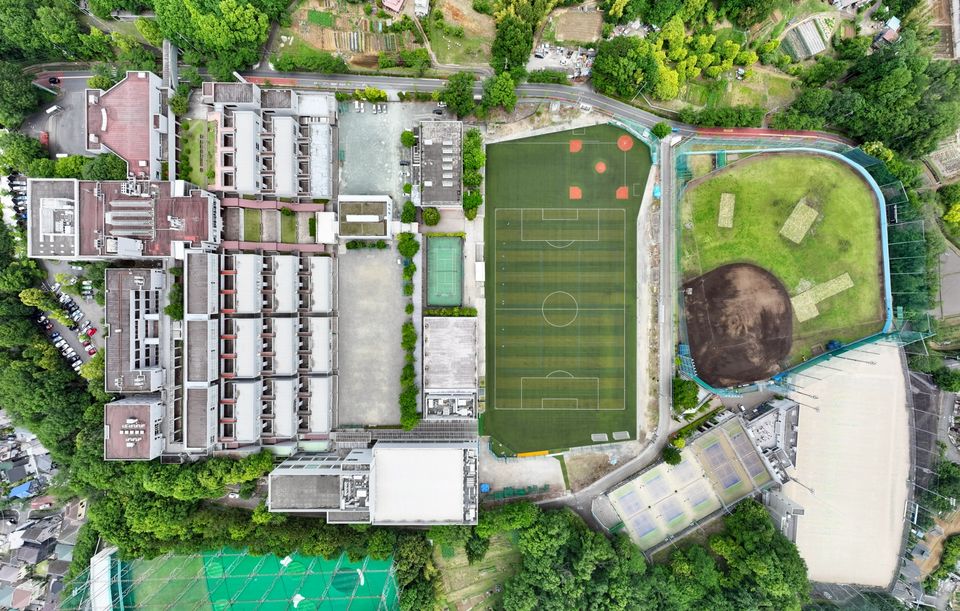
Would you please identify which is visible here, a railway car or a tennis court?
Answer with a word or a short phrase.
tennis court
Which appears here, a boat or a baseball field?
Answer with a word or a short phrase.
baseball field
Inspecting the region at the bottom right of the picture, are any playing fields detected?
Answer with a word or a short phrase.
Yes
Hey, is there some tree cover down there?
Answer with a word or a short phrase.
Yes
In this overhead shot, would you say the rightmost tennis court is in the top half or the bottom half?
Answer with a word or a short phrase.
bottom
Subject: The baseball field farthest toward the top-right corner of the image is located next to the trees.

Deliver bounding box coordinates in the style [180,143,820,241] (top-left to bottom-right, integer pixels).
[683,155,886,389]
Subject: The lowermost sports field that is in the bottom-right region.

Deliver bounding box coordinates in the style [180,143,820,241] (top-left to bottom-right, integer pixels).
[773,343,912,589]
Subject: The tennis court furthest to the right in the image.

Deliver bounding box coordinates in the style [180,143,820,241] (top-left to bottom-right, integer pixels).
[693,417,772,503]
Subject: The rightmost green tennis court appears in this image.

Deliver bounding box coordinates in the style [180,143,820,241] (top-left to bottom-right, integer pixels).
[426,236,463,306]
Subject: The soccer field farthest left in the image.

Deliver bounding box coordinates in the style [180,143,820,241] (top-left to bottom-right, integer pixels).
[485,123,652,456]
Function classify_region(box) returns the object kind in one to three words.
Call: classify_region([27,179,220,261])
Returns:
building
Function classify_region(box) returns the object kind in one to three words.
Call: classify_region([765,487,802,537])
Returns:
building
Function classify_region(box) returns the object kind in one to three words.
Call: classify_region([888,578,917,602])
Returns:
house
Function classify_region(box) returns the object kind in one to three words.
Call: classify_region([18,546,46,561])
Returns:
house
